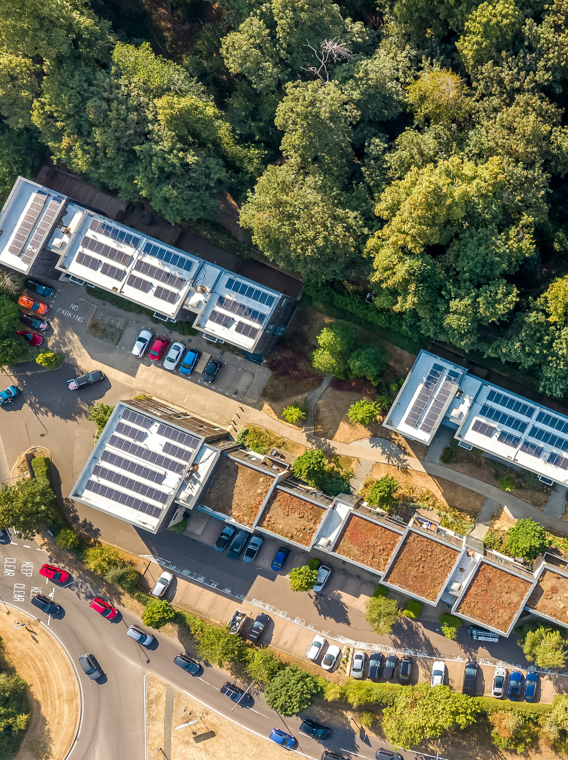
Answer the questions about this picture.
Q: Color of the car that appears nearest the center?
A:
black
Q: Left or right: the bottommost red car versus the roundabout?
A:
right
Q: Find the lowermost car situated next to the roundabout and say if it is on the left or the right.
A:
left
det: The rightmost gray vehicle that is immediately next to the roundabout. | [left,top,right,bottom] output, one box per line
[76,650,104,683]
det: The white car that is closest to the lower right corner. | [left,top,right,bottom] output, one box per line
[492,665,507,696]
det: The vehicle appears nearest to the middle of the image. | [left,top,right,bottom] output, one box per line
[202,357,223,385]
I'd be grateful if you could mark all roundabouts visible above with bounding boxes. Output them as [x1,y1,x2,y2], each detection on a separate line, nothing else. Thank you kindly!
[0,607,77,760]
